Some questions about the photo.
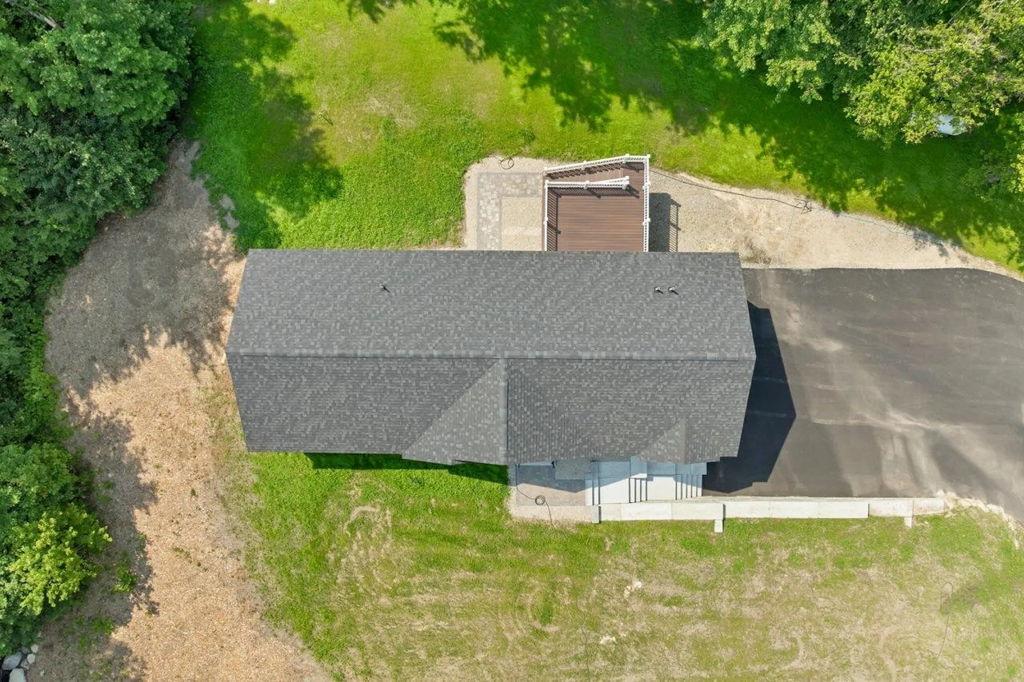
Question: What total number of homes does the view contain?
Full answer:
The photo contains exactly 1 home.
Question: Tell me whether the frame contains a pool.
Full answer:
No, there's no pool here.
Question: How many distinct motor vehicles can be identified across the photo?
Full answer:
The picture shows no motor vehicles.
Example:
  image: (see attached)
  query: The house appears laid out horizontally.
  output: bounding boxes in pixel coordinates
[226,249,757,465]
